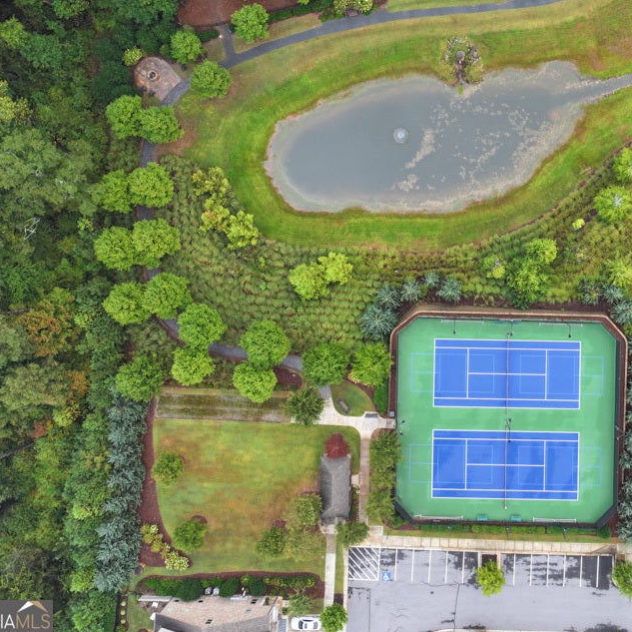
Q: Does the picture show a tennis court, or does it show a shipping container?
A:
tennis court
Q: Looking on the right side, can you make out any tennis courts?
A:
Yes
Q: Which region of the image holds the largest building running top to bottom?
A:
bottom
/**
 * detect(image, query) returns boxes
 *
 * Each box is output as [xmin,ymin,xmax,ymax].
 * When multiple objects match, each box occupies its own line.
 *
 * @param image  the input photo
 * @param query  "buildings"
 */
[320,450,353,525]
[155,594,287,632]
